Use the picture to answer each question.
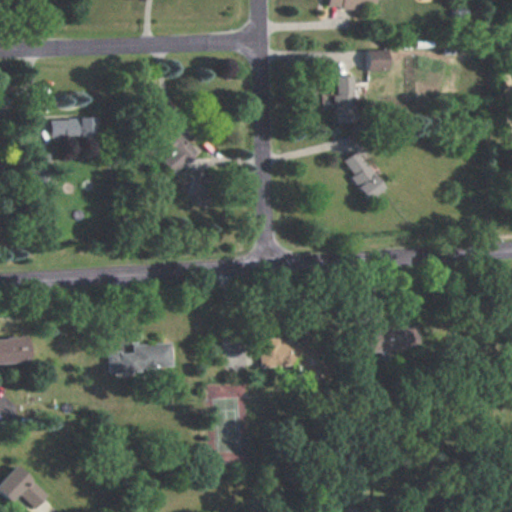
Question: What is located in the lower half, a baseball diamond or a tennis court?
tennis court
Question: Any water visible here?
No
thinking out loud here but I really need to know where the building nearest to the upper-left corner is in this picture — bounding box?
[52,116,95,140]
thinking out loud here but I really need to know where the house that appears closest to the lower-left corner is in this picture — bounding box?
[0,464,48,508]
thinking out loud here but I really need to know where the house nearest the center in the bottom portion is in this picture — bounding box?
[260,335,300,369]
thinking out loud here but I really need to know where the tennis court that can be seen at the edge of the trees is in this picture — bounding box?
[206,384,247,462]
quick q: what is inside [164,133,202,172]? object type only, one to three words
house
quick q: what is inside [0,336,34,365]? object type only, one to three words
house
